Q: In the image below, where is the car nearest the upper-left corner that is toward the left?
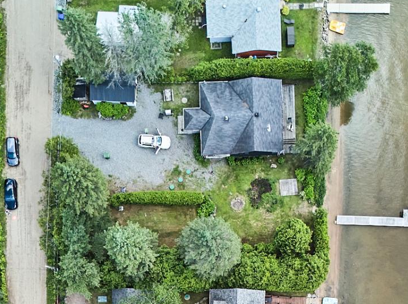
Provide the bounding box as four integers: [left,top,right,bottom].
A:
[3,135,19,166]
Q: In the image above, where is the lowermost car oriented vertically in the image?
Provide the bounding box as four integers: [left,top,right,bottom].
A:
[2,177,17,209]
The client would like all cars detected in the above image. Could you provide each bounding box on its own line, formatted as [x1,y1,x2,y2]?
[137,129,170,154]
[3,135,19,166]
[2,177,17,209]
